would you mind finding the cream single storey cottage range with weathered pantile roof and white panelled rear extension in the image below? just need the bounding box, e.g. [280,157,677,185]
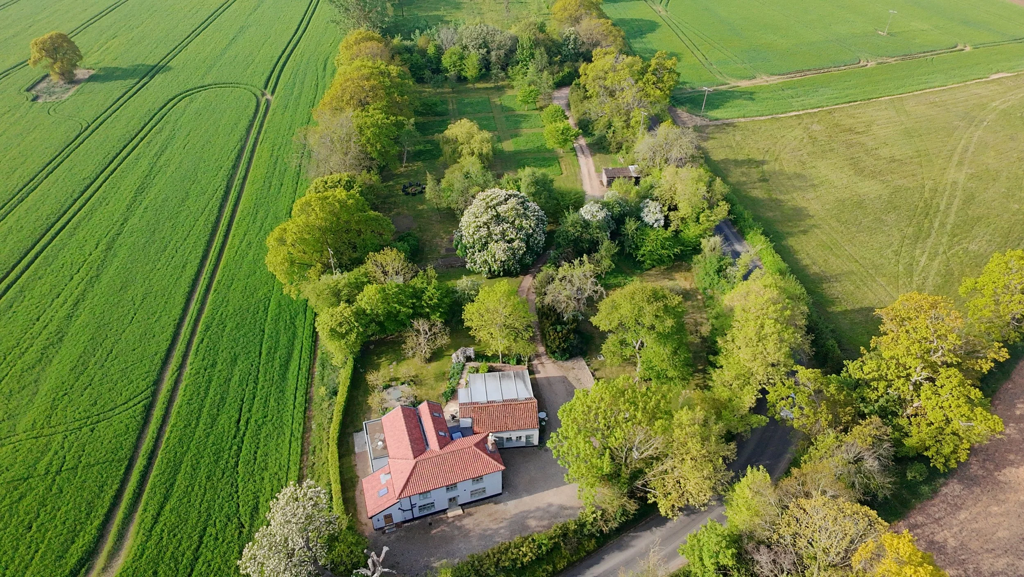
[457,369,540,448]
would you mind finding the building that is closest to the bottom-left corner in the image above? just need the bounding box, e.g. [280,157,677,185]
[361,399,506,530]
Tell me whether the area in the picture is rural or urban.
rural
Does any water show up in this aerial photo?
No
